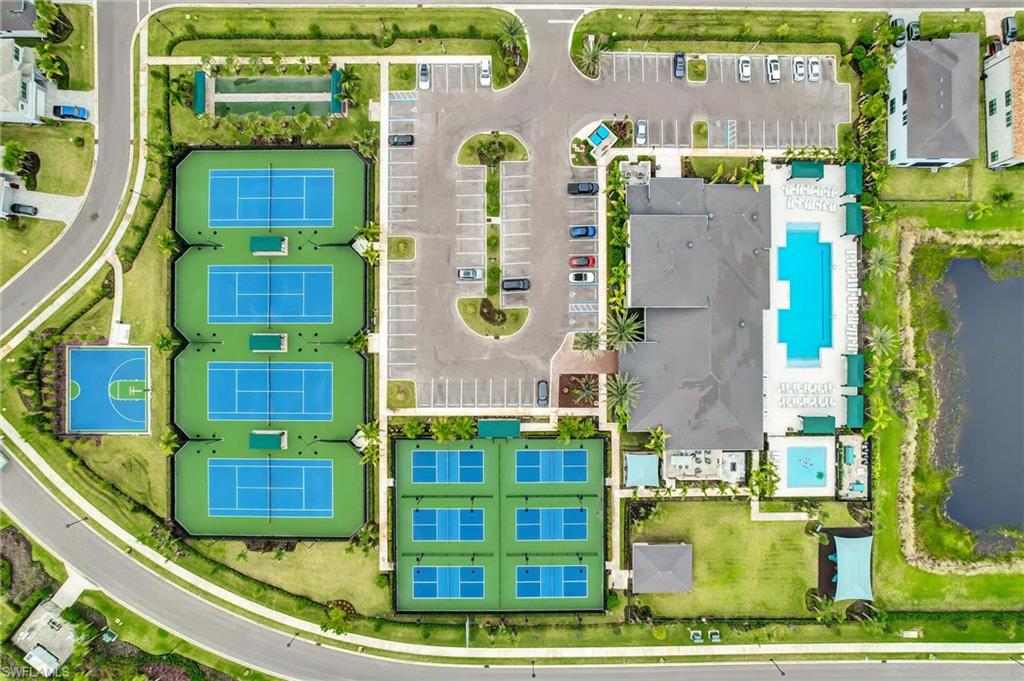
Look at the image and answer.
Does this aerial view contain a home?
Yes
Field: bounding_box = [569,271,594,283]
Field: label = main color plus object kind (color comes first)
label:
white vehicle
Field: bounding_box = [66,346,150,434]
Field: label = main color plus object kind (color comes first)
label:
blue basketball court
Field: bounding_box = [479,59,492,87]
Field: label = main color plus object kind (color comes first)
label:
white vehicle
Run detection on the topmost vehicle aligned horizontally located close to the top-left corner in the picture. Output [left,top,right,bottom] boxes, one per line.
[54,105,90,119]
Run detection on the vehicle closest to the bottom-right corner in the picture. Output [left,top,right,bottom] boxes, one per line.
[536,380,549,406]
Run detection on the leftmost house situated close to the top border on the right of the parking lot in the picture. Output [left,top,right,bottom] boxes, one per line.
[889,33,979,173]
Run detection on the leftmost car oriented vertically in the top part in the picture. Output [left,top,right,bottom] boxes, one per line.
[418,64,430,90]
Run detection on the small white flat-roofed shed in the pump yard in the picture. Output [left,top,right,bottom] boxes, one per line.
[25,639,67,677]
